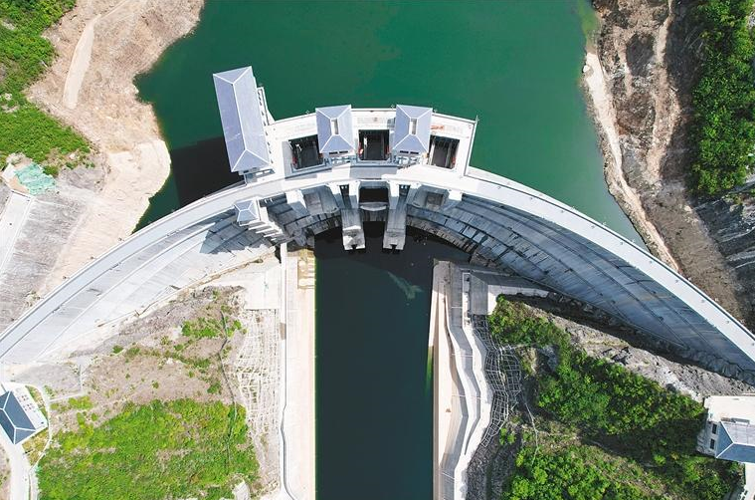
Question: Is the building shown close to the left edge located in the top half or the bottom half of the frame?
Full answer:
It is in the bottom half that the building shown close to the left edge appears.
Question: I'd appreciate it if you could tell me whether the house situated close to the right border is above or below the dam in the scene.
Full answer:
In the image, the house situated close to the right border appears below the dam.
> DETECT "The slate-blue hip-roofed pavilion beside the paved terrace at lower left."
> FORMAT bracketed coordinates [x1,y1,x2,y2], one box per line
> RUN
[0,391,41,445]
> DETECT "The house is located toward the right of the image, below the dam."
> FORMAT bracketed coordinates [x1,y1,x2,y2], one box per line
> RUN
[693,414,755,463]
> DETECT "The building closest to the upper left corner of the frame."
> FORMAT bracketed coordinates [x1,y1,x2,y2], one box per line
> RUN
[213,66,280,183]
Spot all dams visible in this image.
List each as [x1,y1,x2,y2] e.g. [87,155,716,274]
[0,85,755,381]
